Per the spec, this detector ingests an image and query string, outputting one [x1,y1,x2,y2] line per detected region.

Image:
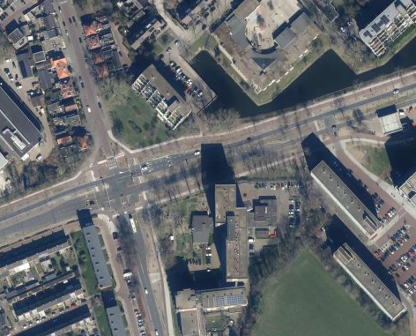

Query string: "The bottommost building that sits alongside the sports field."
[176,288,248,336]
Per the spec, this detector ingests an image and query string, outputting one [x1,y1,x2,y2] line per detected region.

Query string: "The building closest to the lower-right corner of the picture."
[332,243,407,324]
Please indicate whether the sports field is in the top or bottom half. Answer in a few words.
bottom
